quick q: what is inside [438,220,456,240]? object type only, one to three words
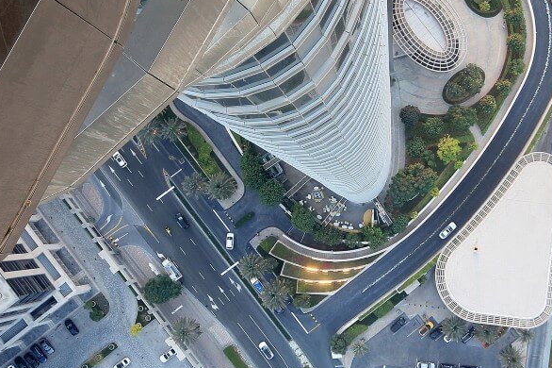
car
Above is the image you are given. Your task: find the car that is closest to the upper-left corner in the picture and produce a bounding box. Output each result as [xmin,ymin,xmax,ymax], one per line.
[113,151,129,169]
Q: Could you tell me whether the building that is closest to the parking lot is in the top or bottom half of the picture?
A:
bottom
